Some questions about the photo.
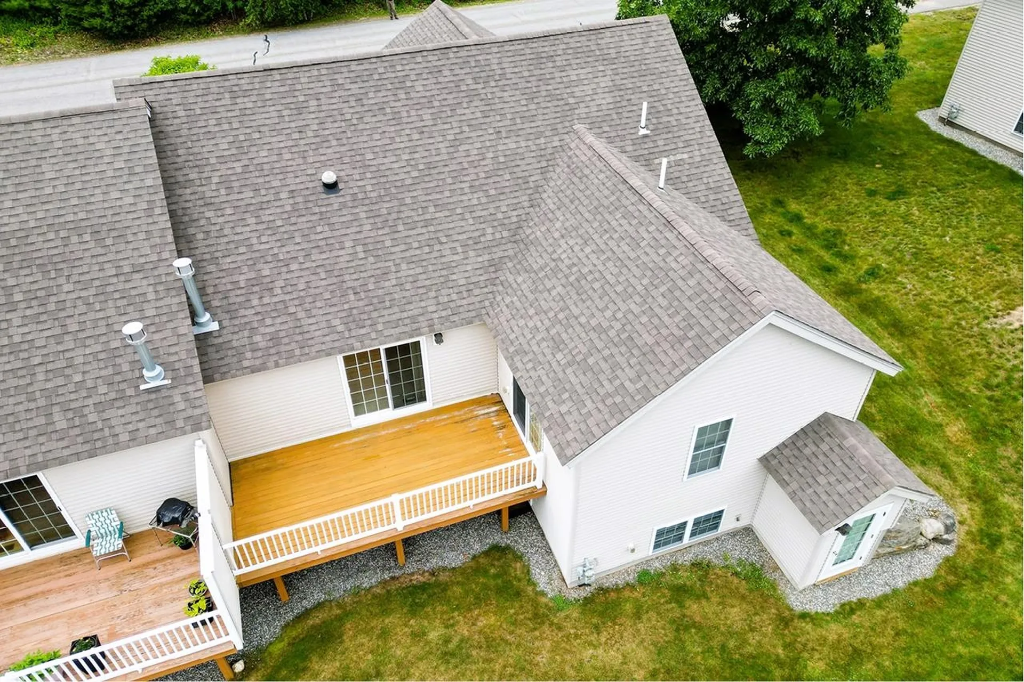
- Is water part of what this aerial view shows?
No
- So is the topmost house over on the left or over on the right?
right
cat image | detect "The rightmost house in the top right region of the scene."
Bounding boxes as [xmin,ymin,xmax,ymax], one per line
[942,0,1024,153]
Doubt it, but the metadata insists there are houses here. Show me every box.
[942,0,1024,153]
[113,0,938,590]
